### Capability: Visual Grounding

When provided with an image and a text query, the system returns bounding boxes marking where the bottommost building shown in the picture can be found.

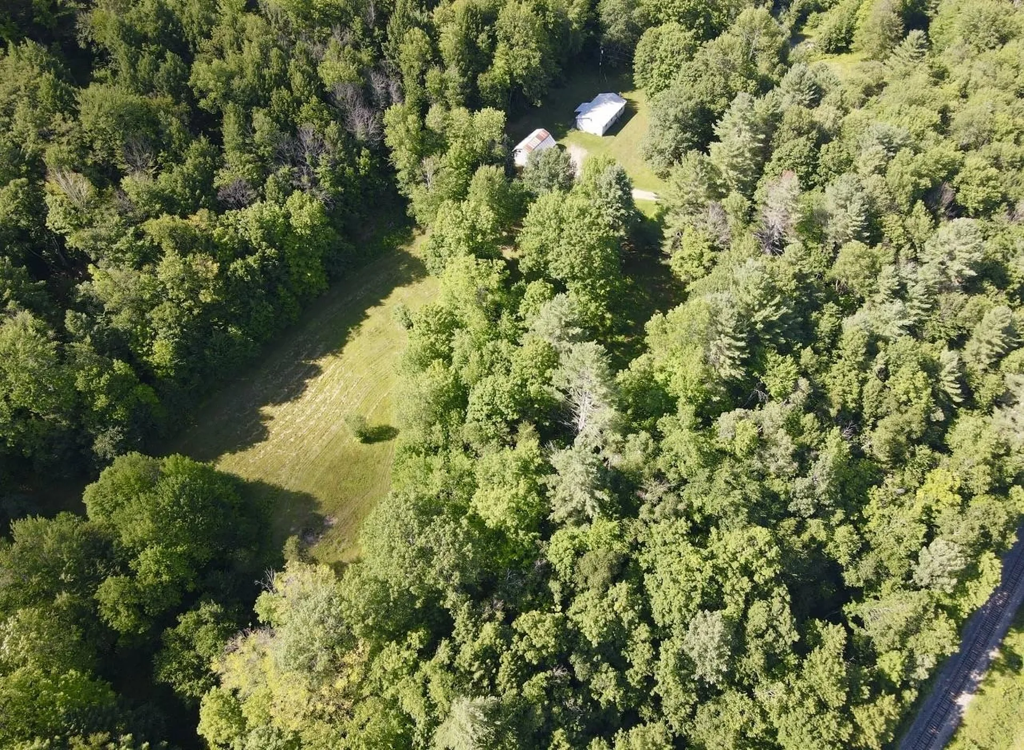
[513,127,556,167]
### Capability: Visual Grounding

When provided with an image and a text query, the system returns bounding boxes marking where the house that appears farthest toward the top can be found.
[575,90,626,136]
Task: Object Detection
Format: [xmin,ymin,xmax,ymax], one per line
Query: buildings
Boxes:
[513,127,556,167]
[575,90,626,136]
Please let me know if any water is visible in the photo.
No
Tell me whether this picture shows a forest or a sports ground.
forest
